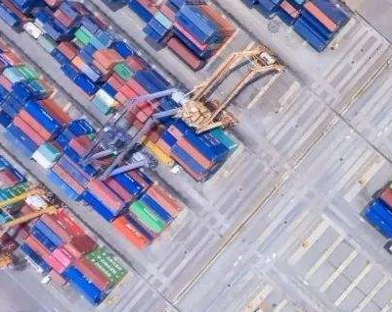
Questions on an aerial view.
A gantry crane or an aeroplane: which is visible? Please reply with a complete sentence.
I can see a gantry crane in this picture.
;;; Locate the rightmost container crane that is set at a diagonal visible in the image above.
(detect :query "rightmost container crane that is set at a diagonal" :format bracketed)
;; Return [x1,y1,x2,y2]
[171,44,286,146]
